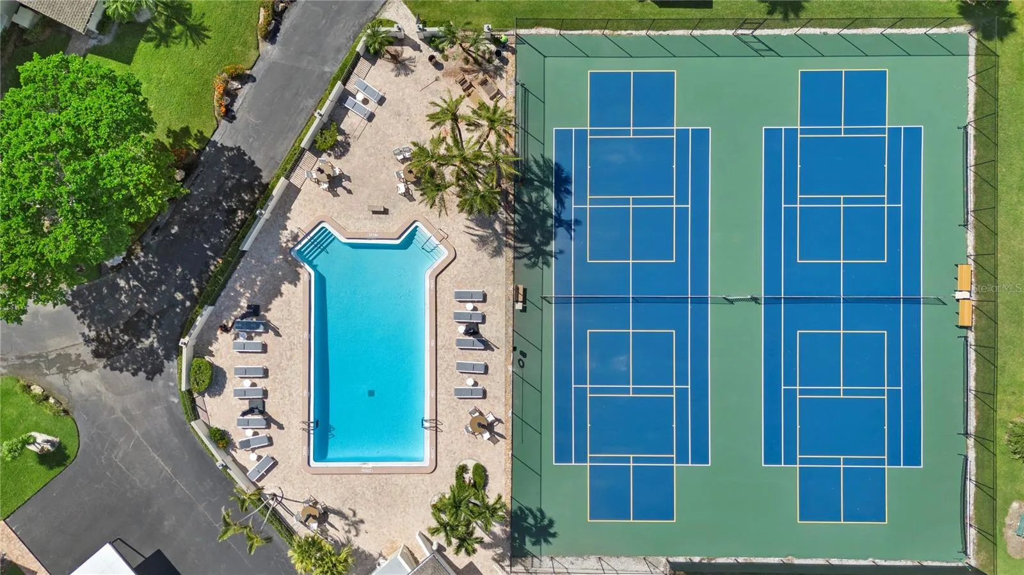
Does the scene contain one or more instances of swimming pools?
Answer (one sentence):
Yes, there's a swimming pool down there.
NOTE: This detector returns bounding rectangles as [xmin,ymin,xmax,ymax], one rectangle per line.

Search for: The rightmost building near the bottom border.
[405,544,466,575]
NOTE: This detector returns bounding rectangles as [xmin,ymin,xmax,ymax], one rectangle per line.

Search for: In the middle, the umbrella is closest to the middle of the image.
[462,322,478,336]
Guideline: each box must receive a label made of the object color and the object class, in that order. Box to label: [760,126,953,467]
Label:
blue tennis court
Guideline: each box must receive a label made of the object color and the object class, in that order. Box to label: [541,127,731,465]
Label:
blue tennis court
